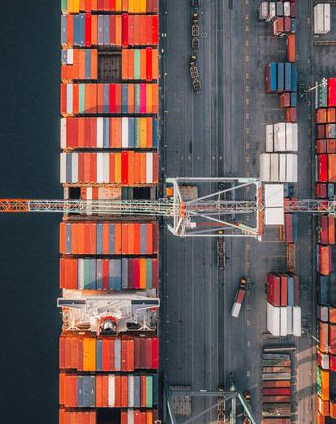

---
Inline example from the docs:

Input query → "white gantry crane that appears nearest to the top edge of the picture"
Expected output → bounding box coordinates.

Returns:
[0,170,336,239]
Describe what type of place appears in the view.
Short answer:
port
